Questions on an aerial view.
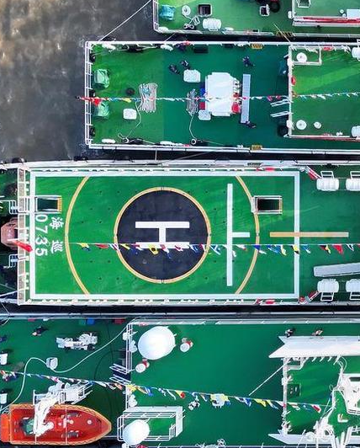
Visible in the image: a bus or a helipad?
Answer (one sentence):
Looking from above, you can make out a helipad.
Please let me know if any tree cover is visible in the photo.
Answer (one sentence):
No, the scene doesn't show any tree cover.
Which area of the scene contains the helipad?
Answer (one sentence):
The helipad appears toward the center of the photo.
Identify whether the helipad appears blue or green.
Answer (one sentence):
The helipad looks green in the image.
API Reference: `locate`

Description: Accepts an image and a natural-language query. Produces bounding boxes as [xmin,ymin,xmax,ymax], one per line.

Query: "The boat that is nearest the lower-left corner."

[1,402,113,448]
